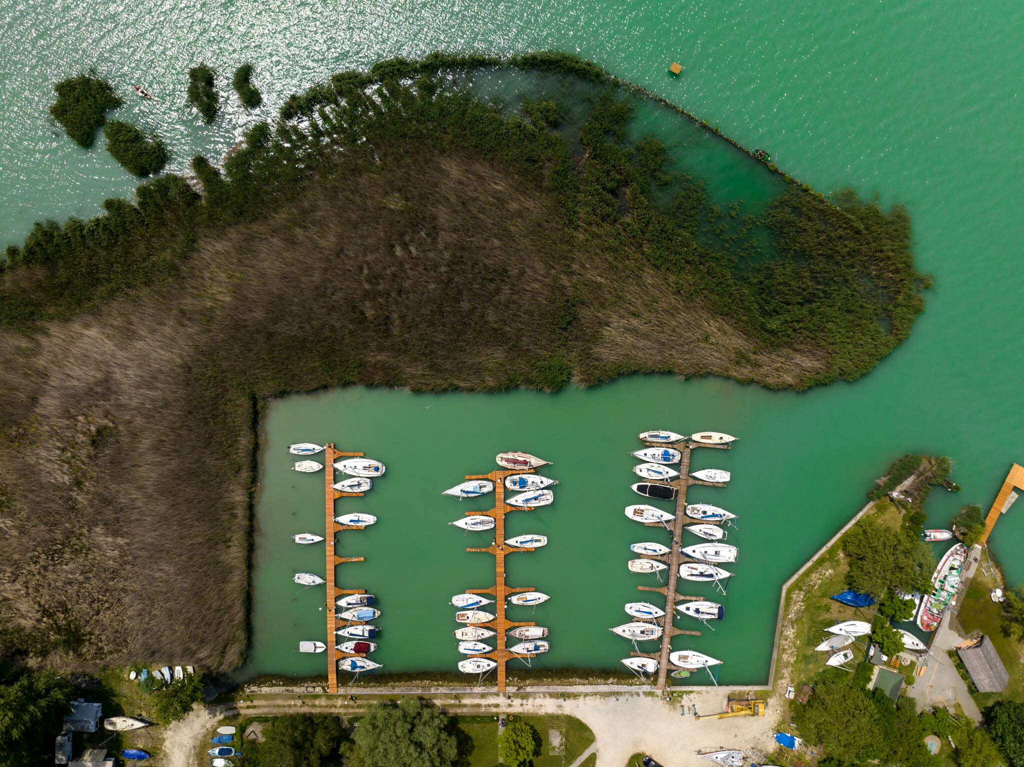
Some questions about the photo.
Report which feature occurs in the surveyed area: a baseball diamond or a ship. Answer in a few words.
ship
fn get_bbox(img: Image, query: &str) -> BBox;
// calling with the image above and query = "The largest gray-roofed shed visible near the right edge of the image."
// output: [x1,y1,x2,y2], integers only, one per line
[953,635,1009,692]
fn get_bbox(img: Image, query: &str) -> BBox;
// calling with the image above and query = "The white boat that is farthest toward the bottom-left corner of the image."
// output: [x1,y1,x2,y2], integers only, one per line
[97,713,148,749]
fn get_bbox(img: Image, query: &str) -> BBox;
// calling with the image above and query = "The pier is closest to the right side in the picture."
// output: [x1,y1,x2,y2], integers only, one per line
[977,464,1024,546]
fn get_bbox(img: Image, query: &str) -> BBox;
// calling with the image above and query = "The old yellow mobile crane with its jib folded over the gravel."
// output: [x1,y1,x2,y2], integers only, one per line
[692,691,768,721]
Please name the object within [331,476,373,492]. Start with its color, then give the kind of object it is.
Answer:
white boat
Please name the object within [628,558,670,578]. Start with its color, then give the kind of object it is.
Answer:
white boat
